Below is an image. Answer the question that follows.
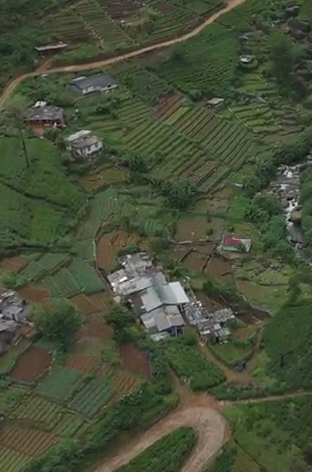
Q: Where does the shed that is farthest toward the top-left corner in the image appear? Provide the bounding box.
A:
[36,41,69,60]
